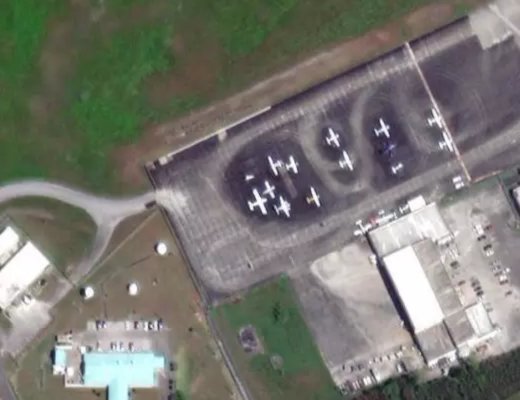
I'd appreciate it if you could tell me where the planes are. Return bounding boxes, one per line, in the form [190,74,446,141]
[437,131,453,151]
[274,196,291,217]
[284,156,299,173]
[268,156,283,175]
[246,189,267,214]
[324,128,339,146]
[260,182,274,197]
[337,150,353,170]
[355,220,371,235]
[378,139,394,157]
[401,200,412,213]
[427,109,442,127]
[304,187,321,207]
[390,160,402,174]
[374,119,390,137]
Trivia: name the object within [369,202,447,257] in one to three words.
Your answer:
hangar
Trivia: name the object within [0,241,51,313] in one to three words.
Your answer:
building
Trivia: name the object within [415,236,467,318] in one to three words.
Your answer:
building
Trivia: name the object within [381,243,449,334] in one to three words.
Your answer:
hangar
